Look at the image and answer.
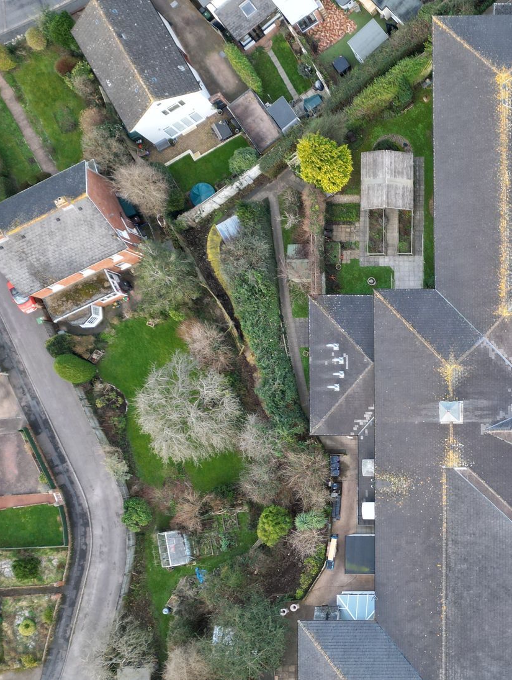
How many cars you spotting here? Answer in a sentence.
Only 1 car is visible.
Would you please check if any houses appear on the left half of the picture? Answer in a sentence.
Yes, a house appears on the left half of the picture.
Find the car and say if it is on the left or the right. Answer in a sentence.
The car appears in the left half of the scene.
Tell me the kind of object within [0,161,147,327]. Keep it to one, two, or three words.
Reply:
house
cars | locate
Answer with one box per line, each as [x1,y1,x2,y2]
[3,281,44,317]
